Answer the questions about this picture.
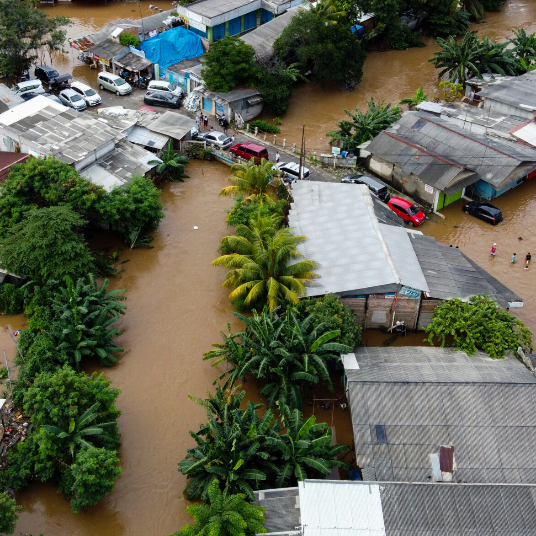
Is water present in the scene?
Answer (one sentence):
Yes, some water is visible.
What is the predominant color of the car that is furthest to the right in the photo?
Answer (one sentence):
The color of the car that is furthest to the right is black.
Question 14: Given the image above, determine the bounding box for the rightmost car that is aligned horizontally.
[463,199,506,223]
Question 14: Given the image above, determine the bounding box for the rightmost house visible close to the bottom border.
[299,347,536,536]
